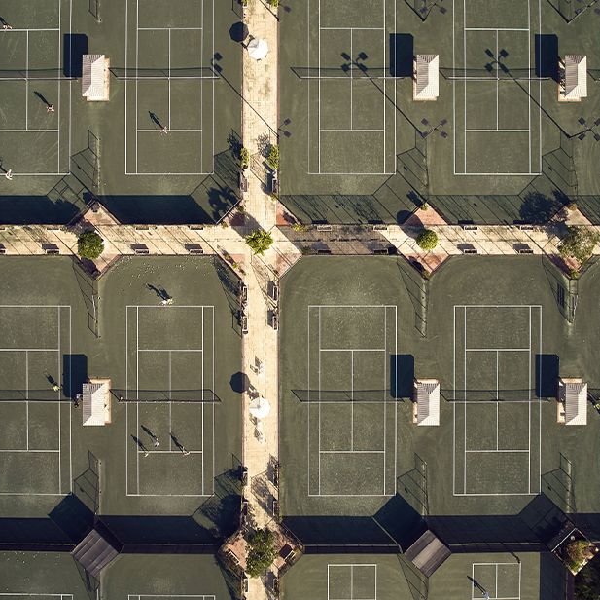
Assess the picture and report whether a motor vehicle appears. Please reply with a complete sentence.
No, the photo shows no motor vehicle.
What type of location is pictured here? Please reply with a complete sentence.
It's a sports ground.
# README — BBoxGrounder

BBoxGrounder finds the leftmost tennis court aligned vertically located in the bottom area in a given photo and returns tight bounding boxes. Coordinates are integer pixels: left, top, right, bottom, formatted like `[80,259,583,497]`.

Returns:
[0,256,97,543]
